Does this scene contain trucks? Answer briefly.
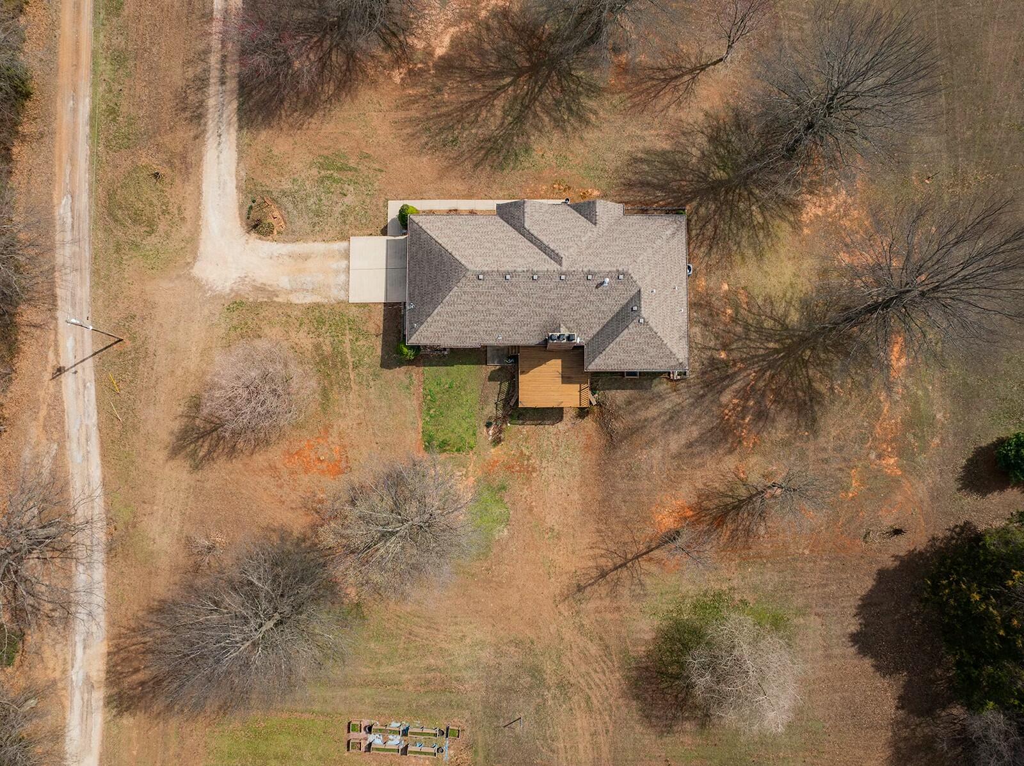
No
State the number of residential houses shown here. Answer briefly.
1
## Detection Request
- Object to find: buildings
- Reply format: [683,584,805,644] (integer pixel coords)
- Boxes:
[406,198,690,373]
